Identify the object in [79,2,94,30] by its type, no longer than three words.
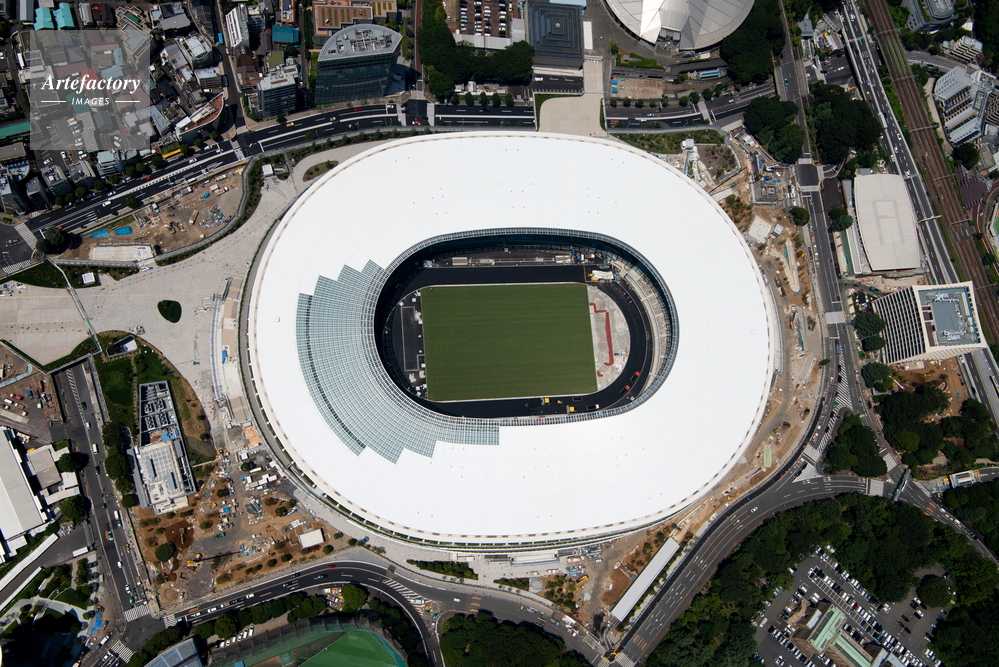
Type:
house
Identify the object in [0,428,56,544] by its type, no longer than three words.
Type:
building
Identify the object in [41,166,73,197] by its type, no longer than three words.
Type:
building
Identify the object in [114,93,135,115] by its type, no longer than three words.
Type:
house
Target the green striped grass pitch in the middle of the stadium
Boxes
[421,285,597,401]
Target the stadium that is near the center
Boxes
[239,129,773,558]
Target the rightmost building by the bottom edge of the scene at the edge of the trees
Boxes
[783,599,904,667]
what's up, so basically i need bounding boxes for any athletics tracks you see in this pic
[373,266,647,418]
